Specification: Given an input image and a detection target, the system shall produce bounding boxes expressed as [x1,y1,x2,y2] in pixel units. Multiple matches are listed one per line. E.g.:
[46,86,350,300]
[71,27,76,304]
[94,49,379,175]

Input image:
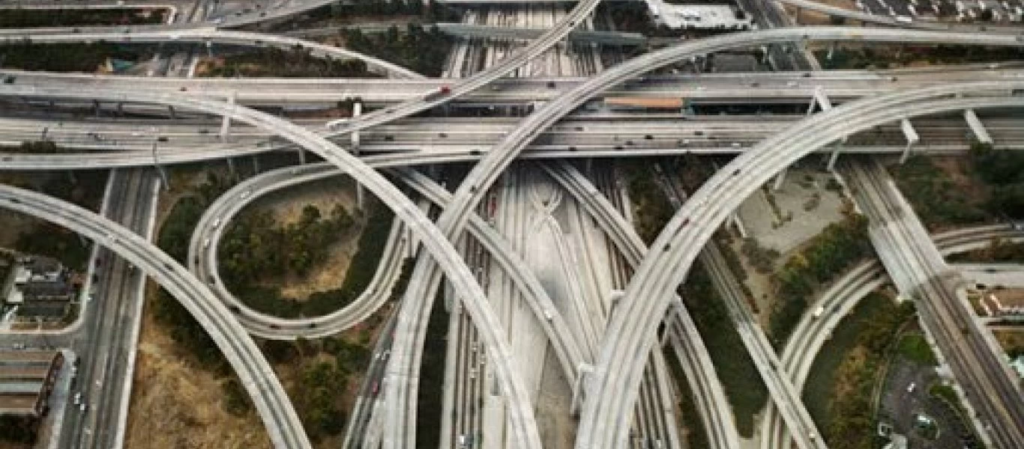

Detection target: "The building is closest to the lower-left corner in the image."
[0,349,79,421]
